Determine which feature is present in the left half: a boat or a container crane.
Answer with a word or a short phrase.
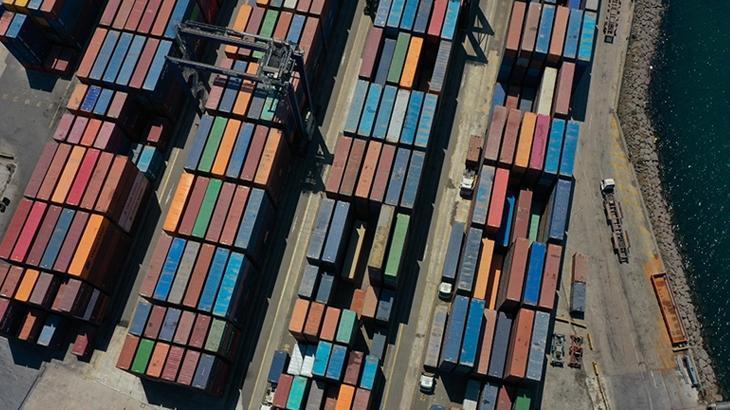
container crane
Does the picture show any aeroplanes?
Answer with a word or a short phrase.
No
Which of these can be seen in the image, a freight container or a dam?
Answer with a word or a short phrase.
freight container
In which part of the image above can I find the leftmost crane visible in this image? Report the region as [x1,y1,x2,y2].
[165,21,322,130]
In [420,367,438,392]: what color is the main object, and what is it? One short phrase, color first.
white vehicle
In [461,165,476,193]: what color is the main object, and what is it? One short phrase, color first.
white vehicle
